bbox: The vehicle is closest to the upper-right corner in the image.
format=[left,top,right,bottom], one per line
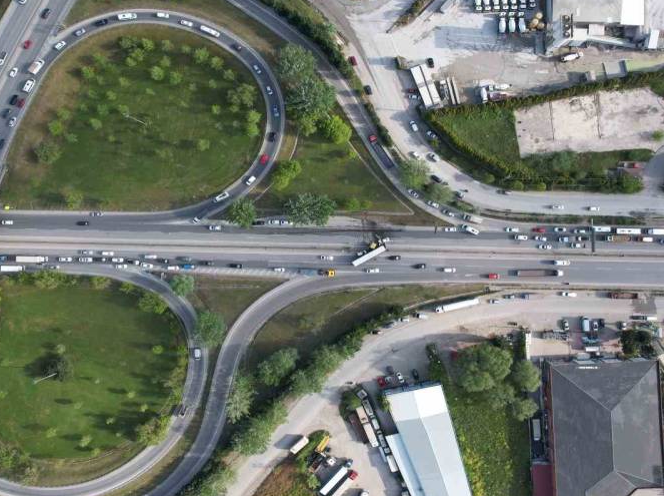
[560,50,586,64]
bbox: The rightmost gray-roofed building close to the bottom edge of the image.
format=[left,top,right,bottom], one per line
[541,355,664,496]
